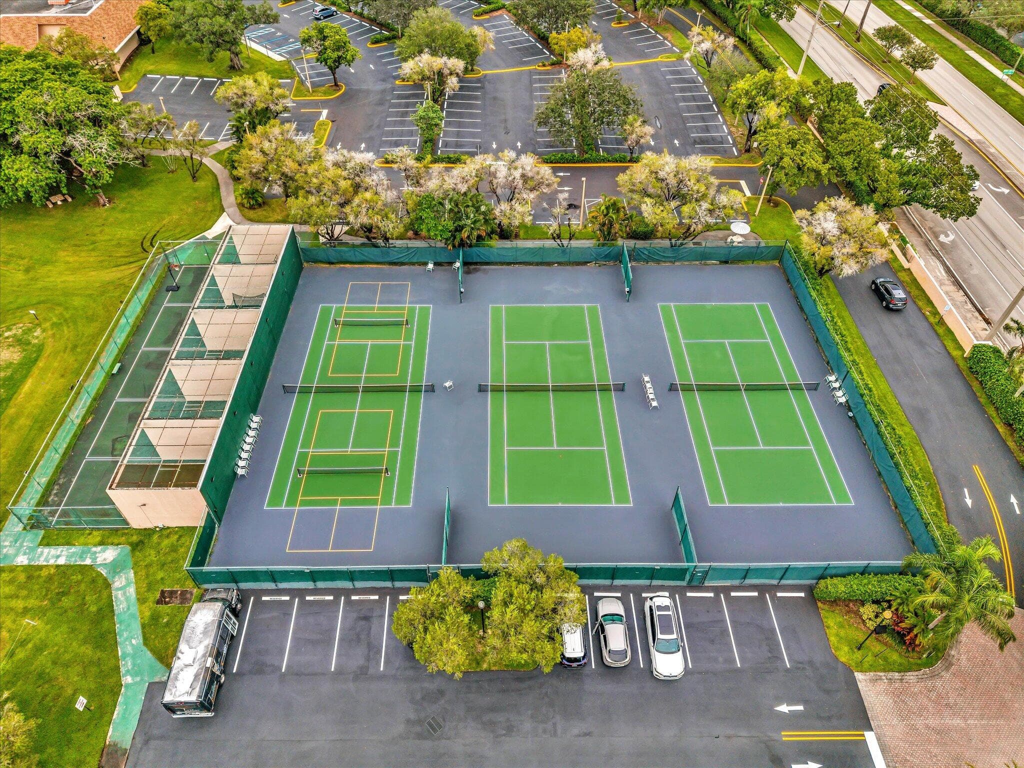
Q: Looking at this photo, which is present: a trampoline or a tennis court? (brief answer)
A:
tennis court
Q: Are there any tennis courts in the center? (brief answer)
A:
Yes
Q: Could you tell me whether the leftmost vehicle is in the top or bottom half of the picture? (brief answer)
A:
bottom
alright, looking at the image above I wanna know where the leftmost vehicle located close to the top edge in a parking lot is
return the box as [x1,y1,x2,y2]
[311,4,334,19]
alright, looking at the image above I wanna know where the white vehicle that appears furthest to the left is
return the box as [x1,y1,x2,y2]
[162,589,244,719]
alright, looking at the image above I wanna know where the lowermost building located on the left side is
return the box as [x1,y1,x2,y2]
[102,227,304,527]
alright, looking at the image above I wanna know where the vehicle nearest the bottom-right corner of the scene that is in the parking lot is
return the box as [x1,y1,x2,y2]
[642,597,688,680]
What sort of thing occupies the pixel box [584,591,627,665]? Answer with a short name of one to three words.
car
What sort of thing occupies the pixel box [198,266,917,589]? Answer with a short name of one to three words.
tennis court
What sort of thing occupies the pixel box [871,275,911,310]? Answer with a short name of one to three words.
car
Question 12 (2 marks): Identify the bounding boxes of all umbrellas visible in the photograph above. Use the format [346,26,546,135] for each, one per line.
[729,219,751,236]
